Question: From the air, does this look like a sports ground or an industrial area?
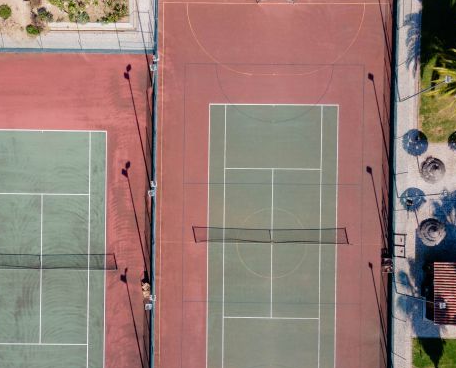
sports ground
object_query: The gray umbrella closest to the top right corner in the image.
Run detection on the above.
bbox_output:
[416,154,446,183]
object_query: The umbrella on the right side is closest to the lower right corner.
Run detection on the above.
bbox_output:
[415,216,444,246]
